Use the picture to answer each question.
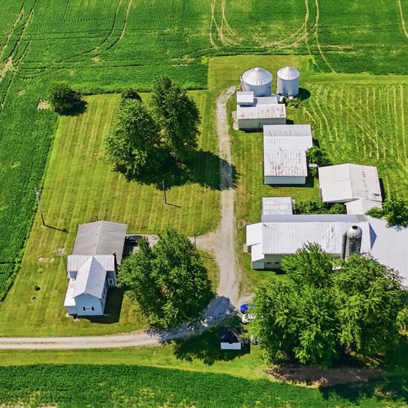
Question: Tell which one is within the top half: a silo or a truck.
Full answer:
There is a silo within the top half.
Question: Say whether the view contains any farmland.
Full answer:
Yes, some farmland is visible.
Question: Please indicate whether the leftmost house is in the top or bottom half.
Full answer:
Seen from above, the leftmost house lies in the bottom half of the view.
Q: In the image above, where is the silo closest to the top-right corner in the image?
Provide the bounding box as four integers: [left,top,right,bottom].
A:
[276,66,300,96]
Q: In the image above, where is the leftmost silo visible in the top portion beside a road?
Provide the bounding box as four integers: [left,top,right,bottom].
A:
[242,68,274,97]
